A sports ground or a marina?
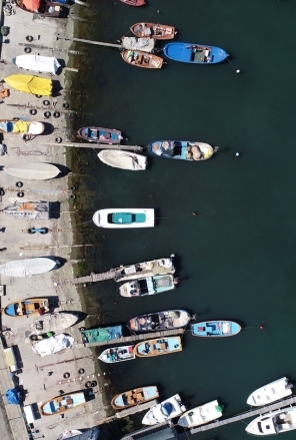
marina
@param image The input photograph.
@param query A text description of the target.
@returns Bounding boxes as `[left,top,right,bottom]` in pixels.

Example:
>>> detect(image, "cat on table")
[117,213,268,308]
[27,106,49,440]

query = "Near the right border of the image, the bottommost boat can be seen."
[245,403,296,435]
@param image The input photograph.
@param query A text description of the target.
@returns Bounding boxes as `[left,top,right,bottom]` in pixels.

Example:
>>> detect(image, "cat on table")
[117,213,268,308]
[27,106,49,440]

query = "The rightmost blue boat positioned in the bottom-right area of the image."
[190,321,241,337]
